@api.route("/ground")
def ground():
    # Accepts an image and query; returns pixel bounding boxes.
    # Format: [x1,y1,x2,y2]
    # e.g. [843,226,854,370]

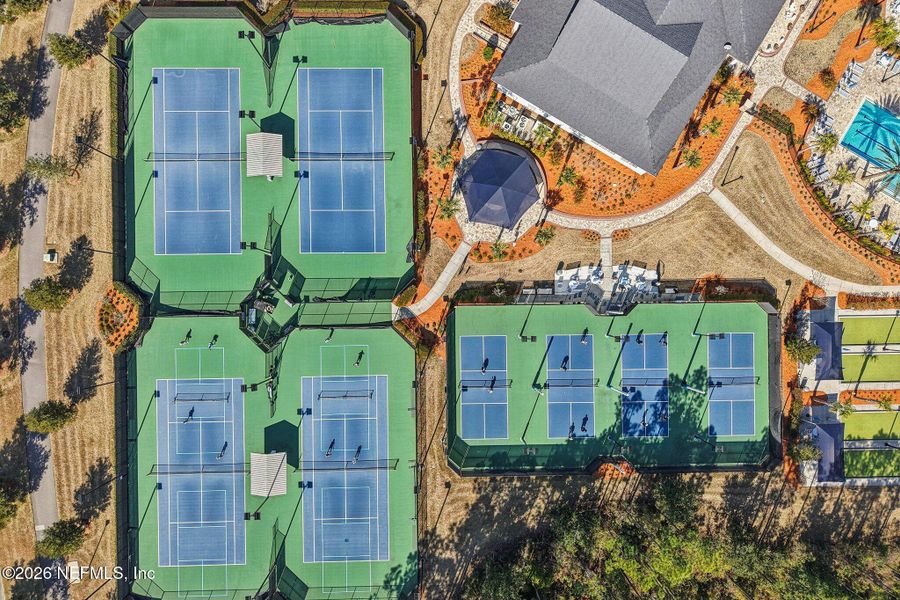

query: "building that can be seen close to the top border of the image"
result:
[491,0,794,175]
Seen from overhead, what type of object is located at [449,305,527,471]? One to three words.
sports court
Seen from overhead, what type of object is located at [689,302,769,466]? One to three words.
sports court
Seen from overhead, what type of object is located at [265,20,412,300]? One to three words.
tennis court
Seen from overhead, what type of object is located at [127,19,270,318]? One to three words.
tennis court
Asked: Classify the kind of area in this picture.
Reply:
sports ground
